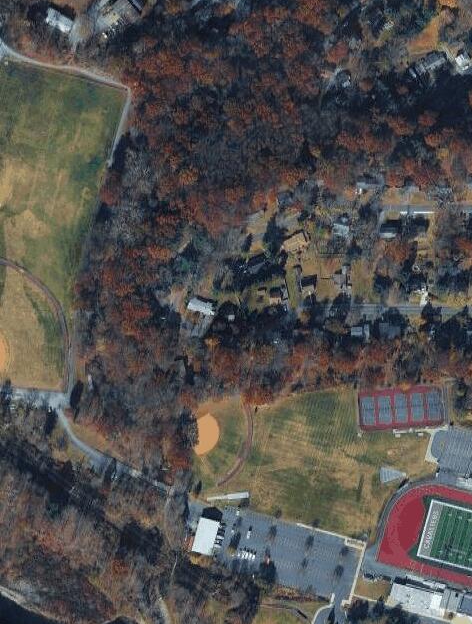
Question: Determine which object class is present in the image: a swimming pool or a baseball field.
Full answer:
I can see a baseball field in this picture.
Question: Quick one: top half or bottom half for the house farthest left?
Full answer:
The house farthest left is in the top half of the image.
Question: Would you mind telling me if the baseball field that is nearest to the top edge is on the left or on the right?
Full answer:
The baseball field that is nearest to the top edge is on the left side of the image.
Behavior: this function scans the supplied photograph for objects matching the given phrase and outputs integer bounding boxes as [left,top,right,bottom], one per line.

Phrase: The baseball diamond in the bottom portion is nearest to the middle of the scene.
[193,400,253,487]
